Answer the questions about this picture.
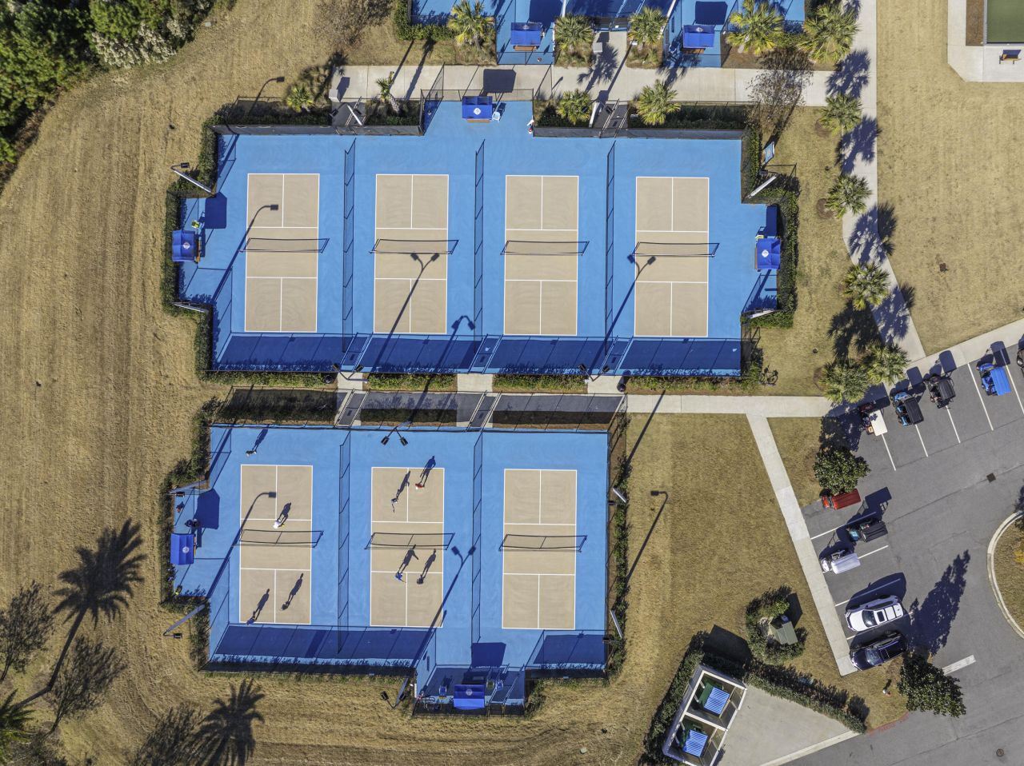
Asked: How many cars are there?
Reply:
2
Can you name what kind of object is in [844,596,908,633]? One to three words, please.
car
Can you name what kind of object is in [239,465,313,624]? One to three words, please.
sports court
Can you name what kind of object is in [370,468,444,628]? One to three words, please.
sports court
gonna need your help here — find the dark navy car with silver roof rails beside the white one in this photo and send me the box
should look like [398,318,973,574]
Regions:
[850,630,911,669]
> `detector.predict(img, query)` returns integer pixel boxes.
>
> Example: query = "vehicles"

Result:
[819,486,861,510]
[844,596,908,633]
[850,630,911,669]
[820,547,862,574]
[849,517,891,543]
[922,372,957,409]
[975,362,1011,395]
[856,402,889,439]
[890,392,926,429]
